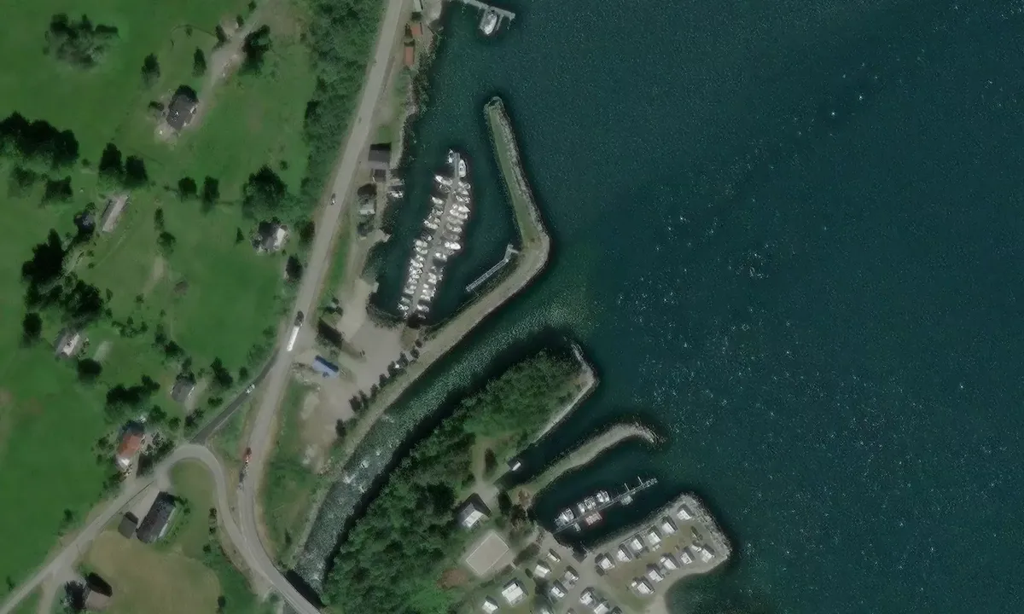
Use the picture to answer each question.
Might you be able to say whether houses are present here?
Yes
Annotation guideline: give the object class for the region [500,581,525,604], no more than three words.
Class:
building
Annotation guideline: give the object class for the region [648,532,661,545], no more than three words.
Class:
vehicle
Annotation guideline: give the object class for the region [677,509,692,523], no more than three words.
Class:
camper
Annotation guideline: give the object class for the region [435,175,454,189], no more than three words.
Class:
boat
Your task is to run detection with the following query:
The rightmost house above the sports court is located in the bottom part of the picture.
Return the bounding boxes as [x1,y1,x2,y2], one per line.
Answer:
[459,502,485,529]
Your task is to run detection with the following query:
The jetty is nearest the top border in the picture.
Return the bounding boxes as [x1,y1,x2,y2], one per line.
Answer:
[465,0,515,29]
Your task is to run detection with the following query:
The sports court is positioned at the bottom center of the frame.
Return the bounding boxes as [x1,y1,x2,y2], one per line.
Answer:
[466,532,509,575]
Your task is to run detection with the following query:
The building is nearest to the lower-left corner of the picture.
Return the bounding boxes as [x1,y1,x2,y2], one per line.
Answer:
[84,581,114,609]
